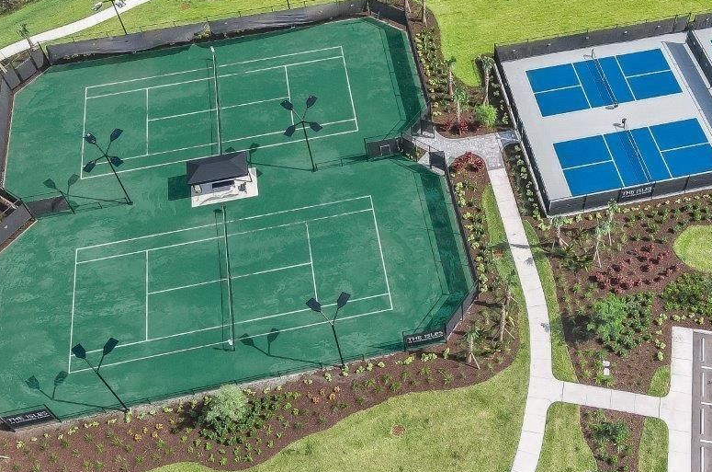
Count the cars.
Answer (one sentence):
I count no cars.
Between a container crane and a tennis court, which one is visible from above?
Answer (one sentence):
Of the two, only a tennis court appears.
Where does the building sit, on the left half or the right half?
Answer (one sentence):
It is on the left.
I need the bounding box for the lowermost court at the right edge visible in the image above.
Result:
[552,117,712,196]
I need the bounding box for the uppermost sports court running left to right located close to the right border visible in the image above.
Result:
[525,48,684,117]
